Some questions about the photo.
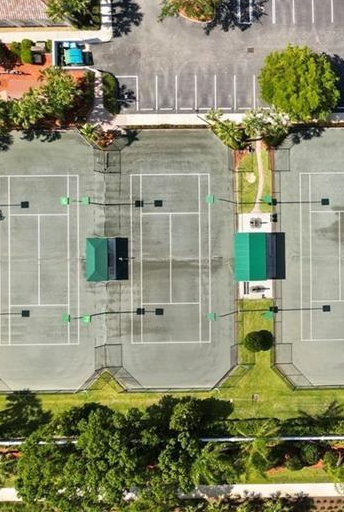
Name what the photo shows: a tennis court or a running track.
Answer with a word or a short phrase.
tennis court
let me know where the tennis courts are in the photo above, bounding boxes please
[0,131,103,391]
[103,127,237,390]
[275,125,344,386]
